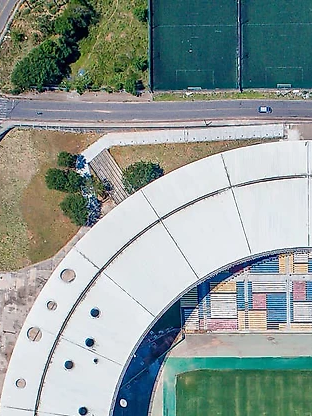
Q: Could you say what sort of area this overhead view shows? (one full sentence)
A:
This image shows a sports ground.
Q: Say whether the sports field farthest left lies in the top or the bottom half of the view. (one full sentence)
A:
The sports field farthest left sits in the top half of the picture.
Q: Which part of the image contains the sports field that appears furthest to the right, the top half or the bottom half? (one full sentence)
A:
The top half of the photo is where the sports field that appears furthest to the right is.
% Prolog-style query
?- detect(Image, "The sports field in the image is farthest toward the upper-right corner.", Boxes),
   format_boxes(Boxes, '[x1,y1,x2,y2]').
[243,0,312,87]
